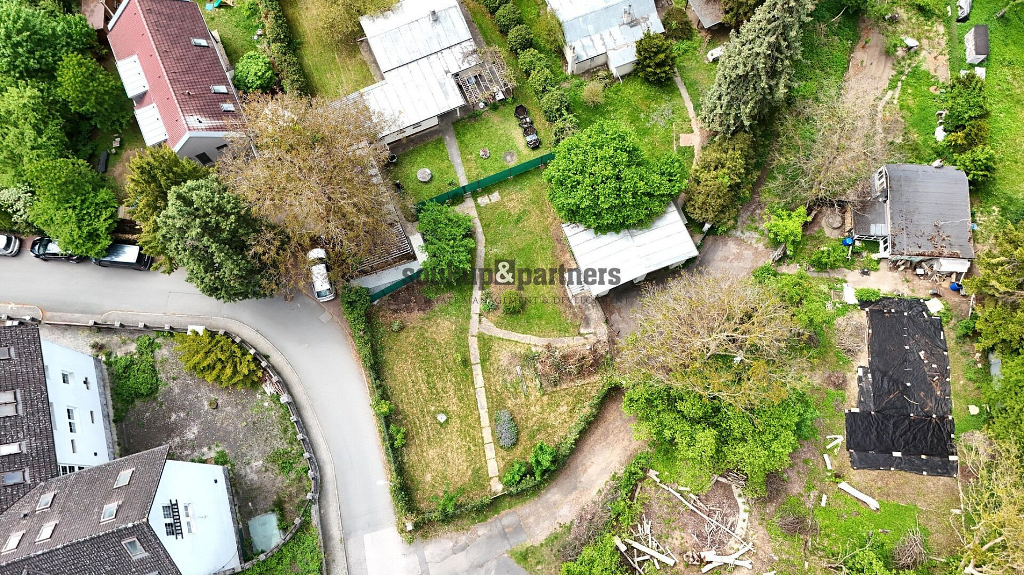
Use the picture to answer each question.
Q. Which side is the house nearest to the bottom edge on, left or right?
left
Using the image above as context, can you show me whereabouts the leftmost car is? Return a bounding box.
[0,236,23,260]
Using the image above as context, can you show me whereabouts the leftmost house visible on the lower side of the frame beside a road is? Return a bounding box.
[0,329,107,499]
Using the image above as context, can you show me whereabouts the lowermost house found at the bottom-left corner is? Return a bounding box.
[0,450,240,575]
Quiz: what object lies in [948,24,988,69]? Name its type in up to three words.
shed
